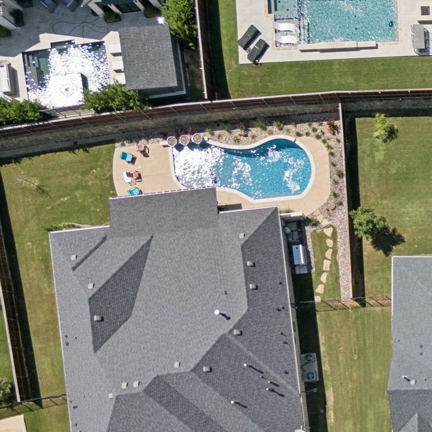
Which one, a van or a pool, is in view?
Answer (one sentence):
It is a pool that can be seen here.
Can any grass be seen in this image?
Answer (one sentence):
Yes, grass shows up in the scene.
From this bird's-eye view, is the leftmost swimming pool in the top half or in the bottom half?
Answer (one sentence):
You can find the leftmost swimming pool in the top half.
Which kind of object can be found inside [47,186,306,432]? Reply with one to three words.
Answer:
house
